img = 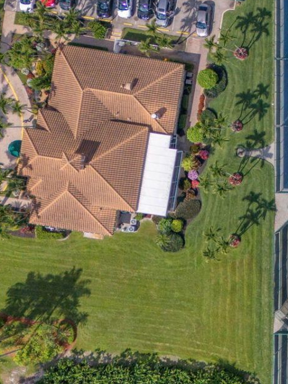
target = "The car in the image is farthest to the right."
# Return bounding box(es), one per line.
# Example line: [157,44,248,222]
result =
[195,3,214,37]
